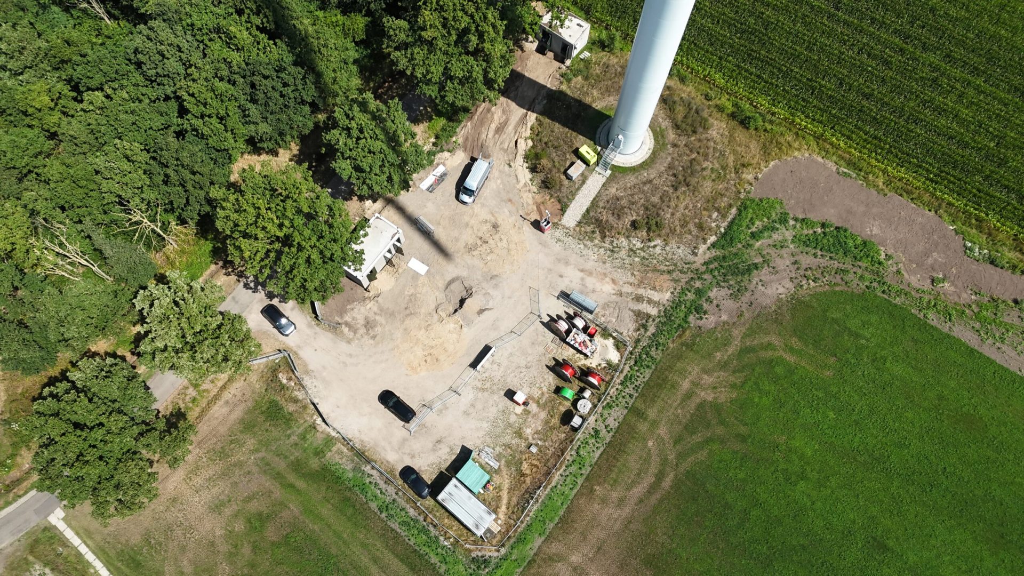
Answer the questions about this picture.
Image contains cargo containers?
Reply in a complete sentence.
Yes, a cargo container can be made out from above.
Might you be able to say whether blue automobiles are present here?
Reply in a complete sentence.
No, there's no blue automobile here.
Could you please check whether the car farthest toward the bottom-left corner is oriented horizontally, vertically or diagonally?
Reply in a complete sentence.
The car farthest toward the bottom-left corner runs diagonally in the image.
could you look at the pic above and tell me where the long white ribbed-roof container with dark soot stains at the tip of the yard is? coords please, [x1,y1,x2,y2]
[437,478,496,547]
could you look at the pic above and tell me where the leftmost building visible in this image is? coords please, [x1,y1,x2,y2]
[336,215,405,287]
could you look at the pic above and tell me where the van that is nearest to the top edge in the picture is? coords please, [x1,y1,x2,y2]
[458,153,499,205]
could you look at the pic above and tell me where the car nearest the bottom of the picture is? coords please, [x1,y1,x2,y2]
[395,462,434,503]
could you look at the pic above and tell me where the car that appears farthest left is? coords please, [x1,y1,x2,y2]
[259,303,298,338]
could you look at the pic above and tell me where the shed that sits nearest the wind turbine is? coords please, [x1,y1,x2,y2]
[541,9,593,61]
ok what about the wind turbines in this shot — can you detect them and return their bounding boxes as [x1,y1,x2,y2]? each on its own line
[595,0,695,179]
